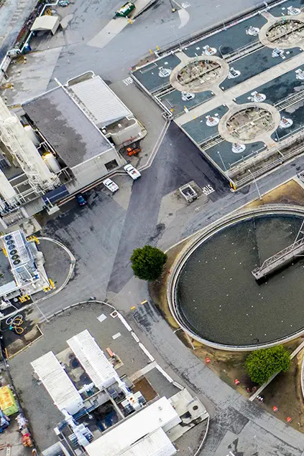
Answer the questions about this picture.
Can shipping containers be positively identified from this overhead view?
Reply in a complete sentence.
Yes, looking at the shot, I can spot a shipping container.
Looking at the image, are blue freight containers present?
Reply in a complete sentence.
No, the photo shows no blue freight container.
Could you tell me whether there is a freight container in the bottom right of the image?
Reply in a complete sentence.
No, in the bottom right of the image there is no freight container.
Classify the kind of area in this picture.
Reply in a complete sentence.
What you see here is an industrial area.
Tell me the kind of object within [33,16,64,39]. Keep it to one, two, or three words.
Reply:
shed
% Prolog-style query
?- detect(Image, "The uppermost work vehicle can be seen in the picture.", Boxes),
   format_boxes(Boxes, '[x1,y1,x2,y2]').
[125,142,144,156]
